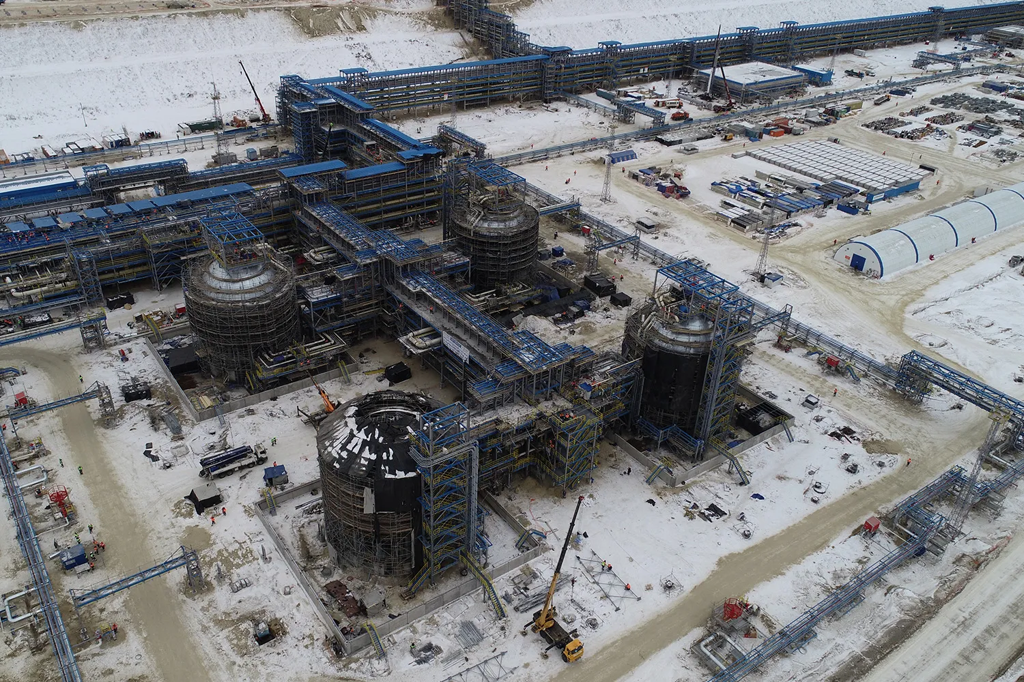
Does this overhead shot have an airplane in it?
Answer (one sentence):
No, the frame has no airplane in it.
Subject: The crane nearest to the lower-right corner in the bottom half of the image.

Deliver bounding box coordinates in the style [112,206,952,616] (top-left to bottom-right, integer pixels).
[520,495,590,669]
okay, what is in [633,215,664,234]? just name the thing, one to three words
shed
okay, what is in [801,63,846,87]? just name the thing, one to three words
building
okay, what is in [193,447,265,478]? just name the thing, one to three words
truck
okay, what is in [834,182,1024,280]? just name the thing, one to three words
hangar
